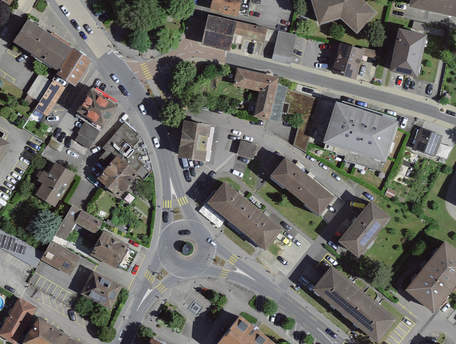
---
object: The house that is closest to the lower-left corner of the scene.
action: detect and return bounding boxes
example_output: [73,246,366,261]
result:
[0,299,36,343]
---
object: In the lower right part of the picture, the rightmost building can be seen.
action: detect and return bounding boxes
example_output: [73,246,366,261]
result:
[406,242,456,312]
